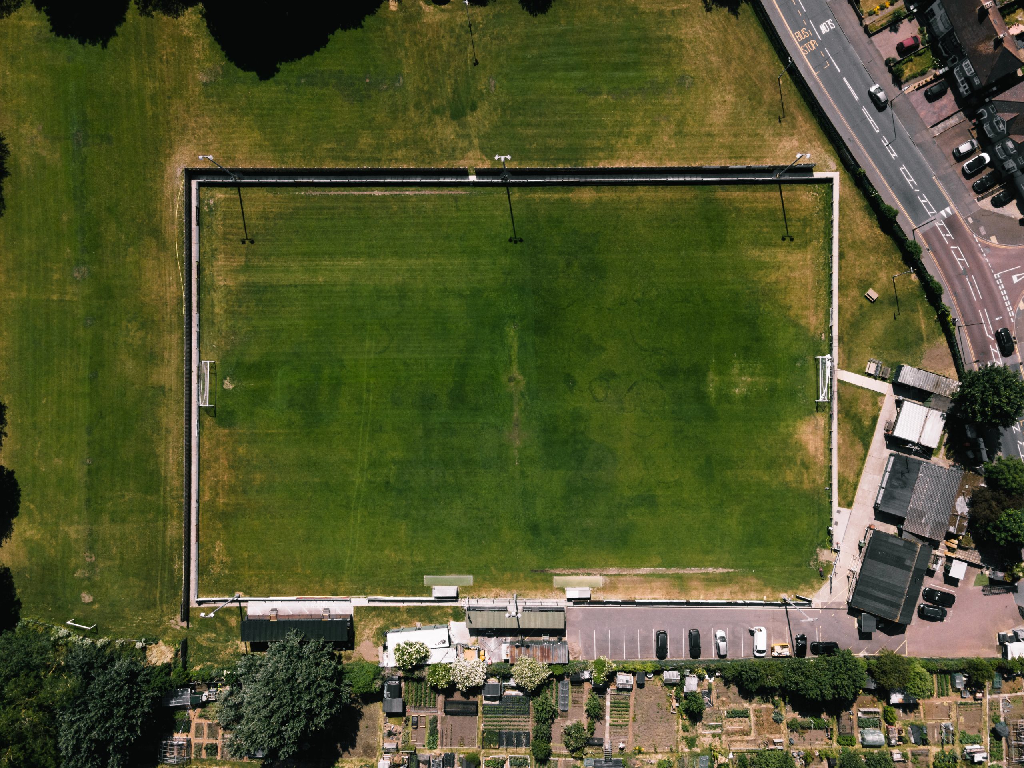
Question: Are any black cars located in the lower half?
Yes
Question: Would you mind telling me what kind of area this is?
sports ground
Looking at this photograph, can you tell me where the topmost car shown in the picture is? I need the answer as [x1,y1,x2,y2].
[894,37,920,56]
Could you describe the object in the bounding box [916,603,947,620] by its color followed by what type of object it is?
black car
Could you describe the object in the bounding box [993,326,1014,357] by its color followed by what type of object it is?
black car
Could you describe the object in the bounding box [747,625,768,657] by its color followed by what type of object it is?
white vehicle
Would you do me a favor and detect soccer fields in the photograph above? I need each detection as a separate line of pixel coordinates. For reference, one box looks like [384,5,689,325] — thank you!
[199,185,832,599]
